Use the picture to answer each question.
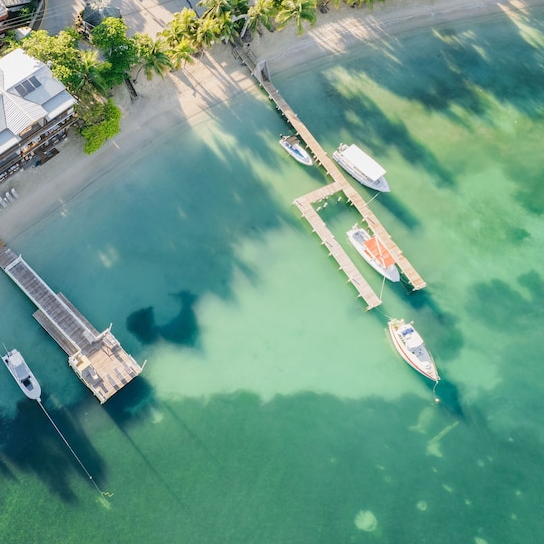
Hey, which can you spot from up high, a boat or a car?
boat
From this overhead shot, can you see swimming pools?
No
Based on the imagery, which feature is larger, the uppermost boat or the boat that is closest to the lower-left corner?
the boat that is closest to the lower-left corner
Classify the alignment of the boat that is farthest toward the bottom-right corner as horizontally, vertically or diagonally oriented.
diagonally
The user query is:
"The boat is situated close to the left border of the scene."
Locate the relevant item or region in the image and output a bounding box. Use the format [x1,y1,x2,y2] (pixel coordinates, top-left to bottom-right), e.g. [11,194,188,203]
[1,343,44,402]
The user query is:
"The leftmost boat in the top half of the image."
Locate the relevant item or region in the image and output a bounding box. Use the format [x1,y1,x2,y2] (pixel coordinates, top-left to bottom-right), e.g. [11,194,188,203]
[278,133,312,166]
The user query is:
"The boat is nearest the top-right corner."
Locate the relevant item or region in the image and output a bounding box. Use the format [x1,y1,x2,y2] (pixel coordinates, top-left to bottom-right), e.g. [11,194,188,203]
[332,147,397,198]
